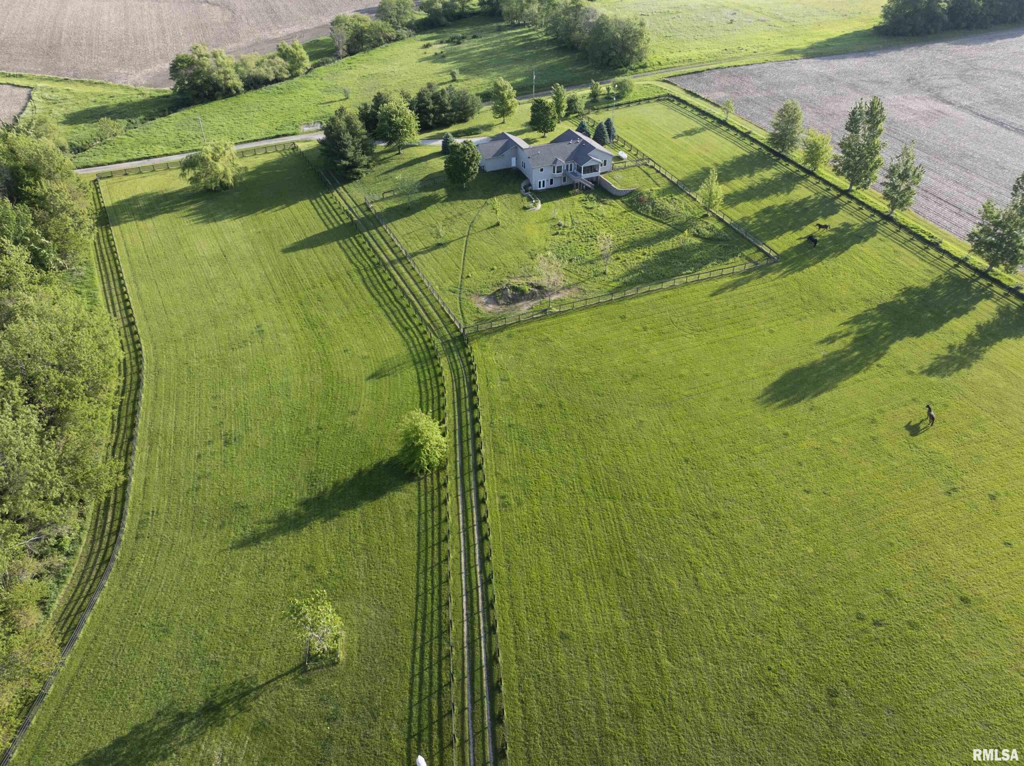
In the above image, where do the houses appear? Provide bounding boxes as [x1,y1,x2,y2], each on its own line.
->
[474,129,615,190]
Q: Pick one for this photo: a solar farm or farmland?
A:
farmland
